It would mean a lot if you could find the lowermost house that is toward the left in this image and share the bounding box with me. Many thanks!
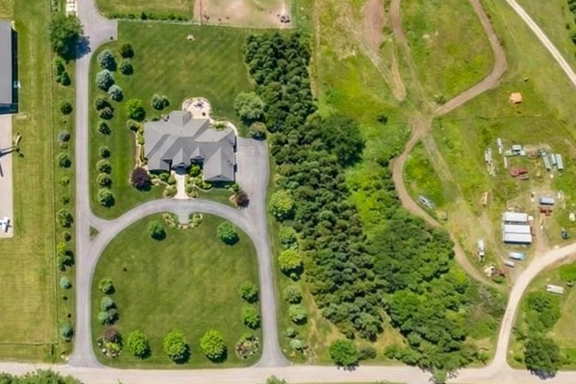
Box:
[144,111,234,181]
